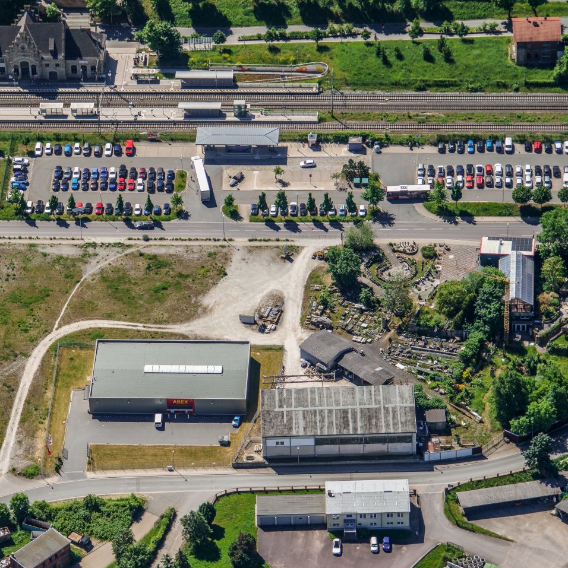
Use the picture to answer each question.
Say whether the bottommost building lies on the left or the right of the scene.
left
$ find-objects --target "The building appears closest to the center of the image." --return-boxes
[301,330,354,378]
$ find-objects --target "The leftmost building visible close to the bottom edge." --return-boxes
[11,529,70,568]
